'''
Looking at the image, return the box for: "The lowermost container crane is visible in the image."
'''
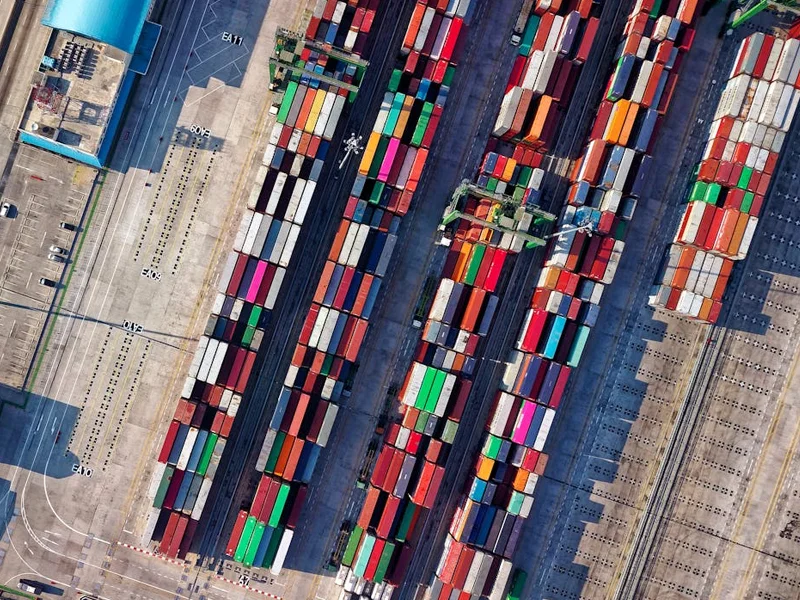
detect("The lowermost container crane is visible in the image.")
[431,180,561,257]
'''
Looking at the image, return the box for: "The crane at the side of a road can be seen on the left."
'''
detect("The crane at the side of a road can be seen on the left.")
[265,26,373,119]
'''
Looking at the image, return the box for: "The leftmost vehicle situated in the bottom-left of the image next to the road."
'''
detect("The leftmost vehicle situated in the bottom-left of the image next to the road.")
[20,580,52,599]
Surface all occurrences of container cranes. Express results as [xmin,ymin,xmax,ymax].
[265,26,373,119]
[431,180,561,257]
[714,0,800,41]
